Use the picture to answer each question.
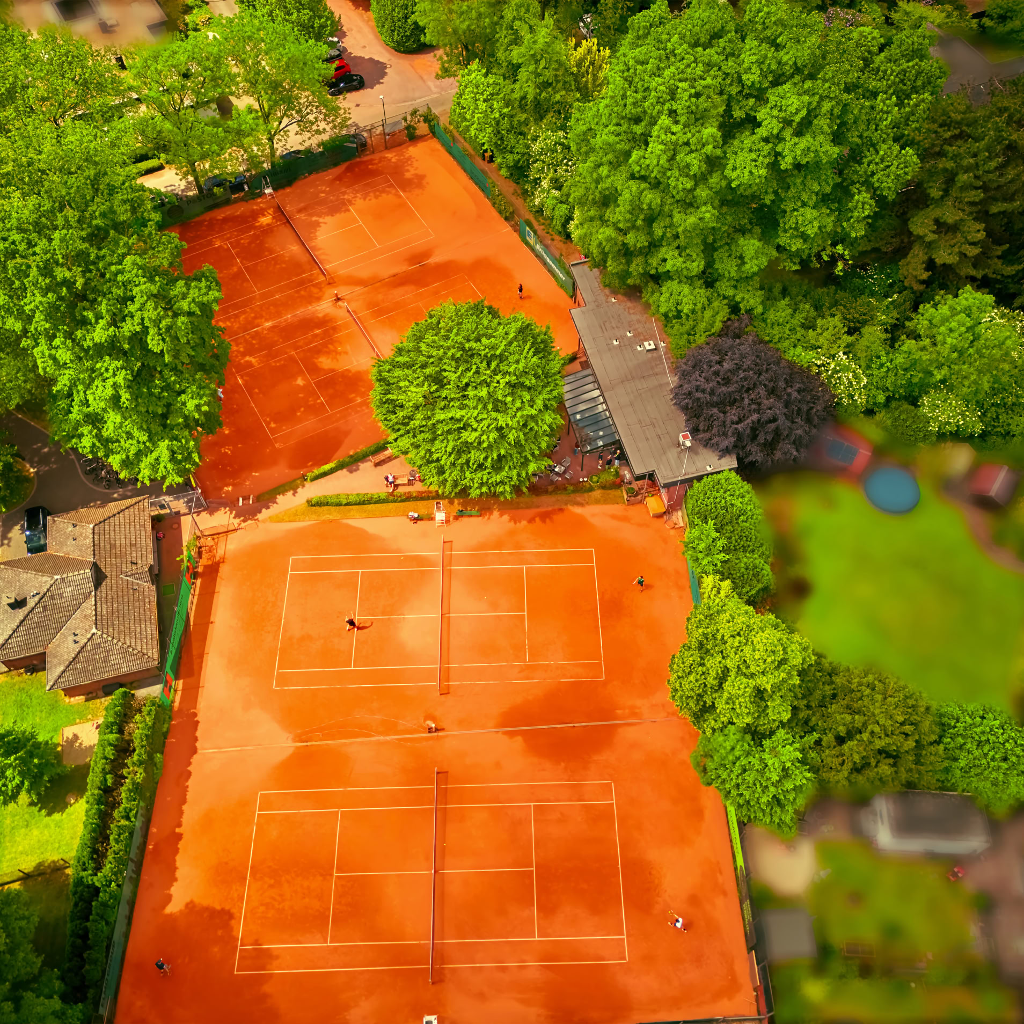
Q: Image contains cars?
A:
Yes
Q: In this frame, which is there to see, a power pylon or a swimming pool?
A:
swimming pool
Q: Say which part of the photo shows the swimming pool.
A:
right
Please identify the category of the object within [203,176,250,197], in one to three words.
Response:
car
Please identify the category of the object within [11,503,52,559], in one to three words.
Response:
car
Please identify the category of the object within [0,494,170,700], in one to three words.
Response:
house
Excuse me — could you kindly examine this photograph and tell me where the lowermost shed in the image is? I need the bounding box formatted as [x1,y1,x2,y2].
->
[761,906,818,960]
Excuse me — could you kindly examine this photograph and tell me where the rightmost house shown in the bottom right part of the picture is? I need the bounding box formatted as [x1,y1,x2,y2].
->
[871,794,993,848]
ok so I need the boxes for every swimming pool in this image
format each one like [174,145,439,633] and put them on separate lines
[862,463,922,513]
